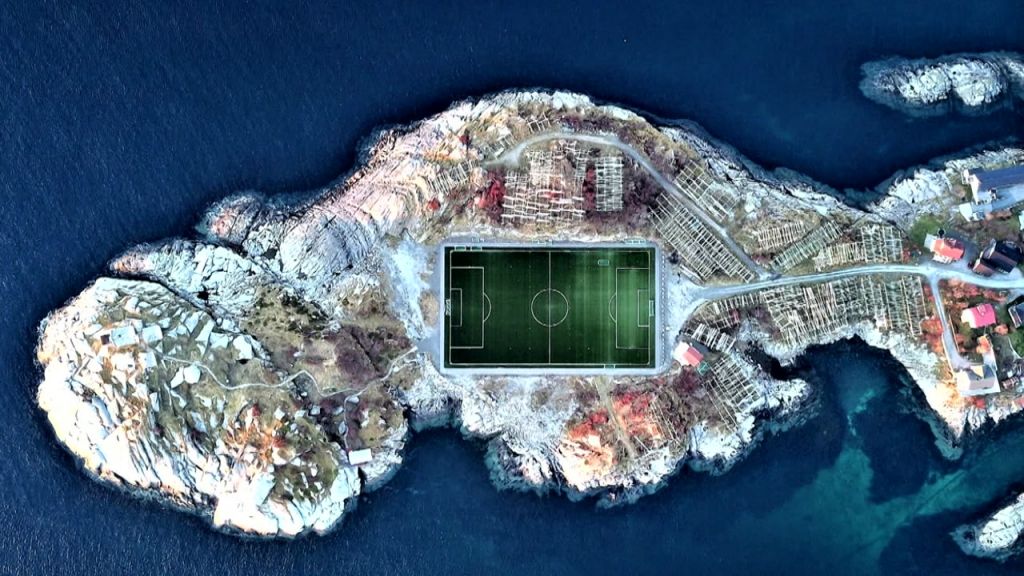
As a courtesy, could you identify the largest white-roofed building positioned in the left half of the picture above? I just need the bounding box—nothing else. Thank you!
[349,448,373,465]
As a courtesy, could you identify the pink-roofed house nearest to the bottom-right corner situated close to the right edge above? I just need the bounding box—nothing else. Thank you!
[960,303,997,328]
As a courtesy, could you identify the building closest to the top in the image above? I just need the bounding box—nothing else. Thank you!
[959,166,1024,203]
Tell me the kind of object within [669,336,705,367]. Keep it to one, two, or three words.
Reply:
building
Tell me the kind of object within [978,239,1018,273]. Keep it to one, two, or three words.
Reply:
house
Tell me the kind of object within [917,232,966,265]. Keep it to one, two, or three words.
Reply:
house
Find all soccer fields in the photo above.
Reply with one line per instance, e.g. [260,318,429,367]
[421,236,671,377]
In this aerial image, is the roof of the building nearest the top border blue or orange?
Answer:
blue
